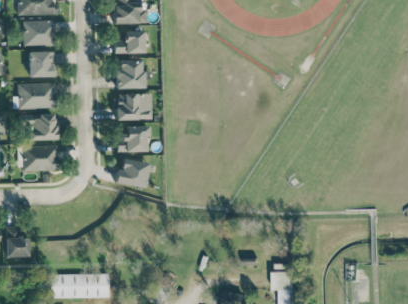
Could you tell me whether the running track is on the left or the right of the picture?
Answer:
right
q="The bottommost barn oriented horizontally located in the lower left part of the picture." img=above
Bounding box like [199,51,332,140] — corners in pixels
[54,274,110,299]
